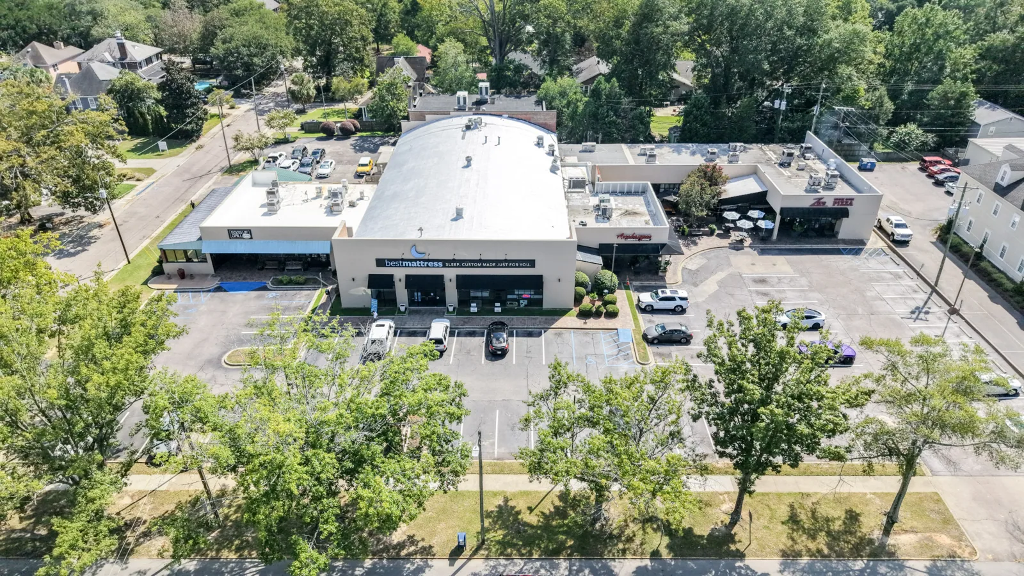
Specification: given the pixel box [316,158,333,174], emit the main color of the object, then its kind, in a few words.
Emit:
white car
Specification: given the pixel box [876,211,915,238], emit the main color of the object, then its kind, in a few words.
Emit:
white truck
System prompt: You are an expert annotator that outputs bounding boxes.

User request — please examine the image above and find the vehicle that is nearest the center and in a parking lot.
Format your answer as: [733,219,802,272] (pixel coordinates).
[485,323,509,357]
